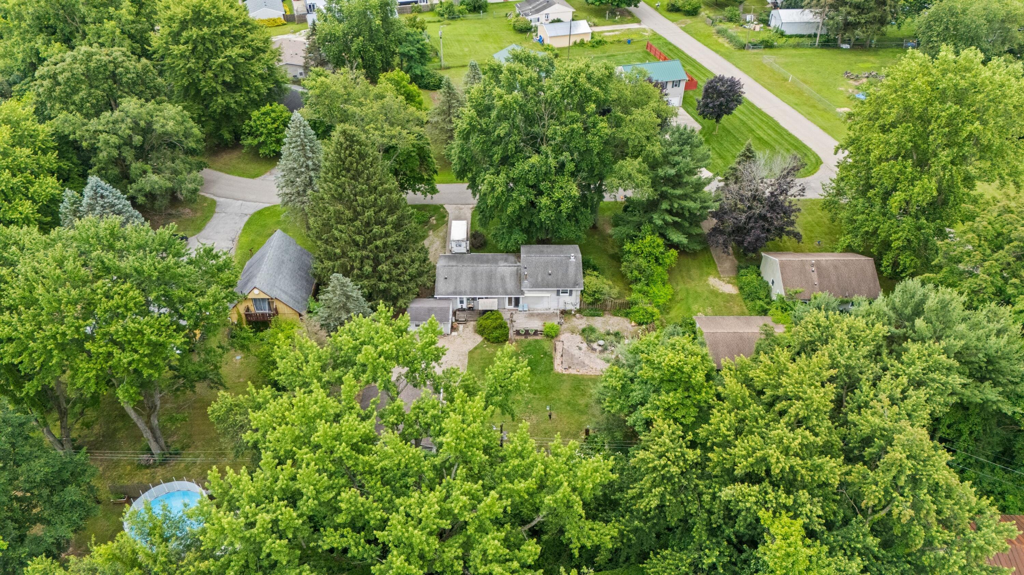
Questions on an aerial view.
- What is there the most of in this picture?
trees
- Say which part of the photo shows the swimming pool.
bottom left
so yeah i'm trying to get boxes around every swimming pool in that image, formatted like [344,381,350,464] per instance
[120,478,213,563]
